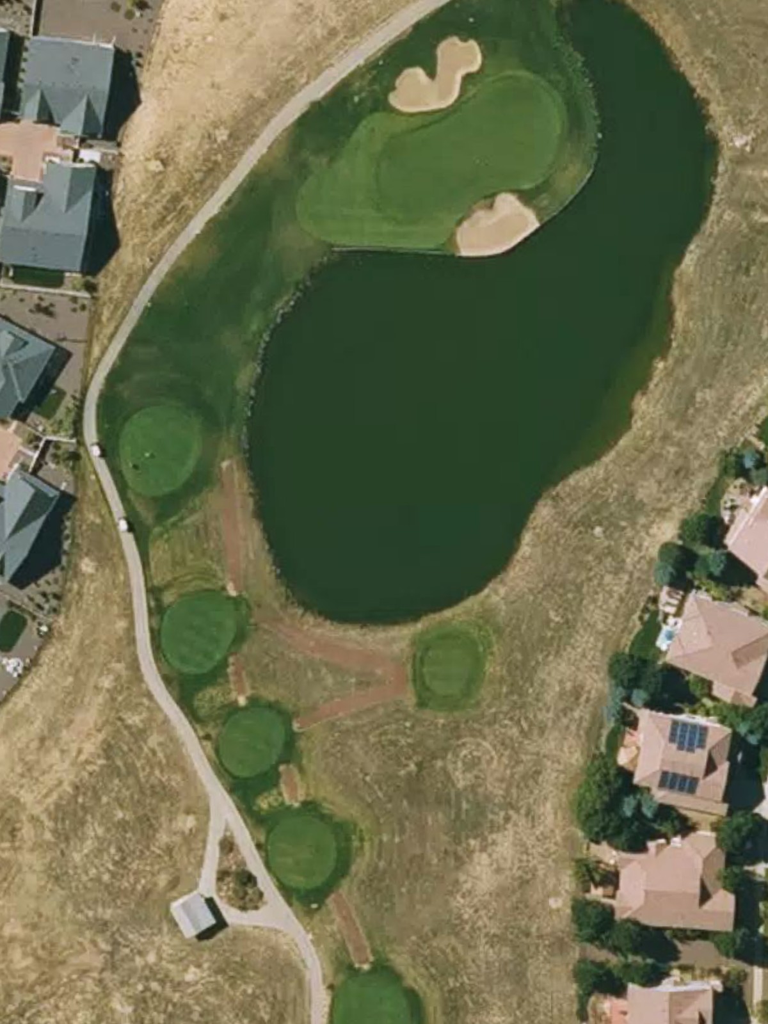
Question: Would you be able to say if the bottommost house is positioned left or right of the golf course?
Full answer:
Relative to the golf course, the bottommost house lies to the right.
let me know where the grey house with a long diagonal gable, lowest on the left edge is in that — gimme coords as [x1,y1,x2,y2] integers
[0,464,60,581]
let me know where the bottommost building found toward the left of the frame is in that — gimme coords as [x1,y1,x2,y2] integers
[170,891,215,938]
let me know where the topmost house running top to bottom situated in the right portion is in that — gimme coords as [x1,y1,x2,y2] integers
[723,476,768,584]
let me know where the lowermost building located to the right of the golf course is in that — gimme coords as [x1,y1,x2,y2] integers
[628,978,712,1024]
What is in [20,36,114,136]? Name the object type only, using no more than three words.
house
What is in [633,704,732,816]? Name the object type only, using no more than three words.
house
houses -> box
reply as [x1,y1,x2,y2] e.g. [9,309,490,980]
[723,476,768,584]
[633,704,732,816]
[628,978,712,1024]
[0,316,57,418]
[667,587,768,707]
[0,29,9,119]
[0,464,60,581]
[0,164,97,273]
[615,824,735,932]
[20,36,114,136]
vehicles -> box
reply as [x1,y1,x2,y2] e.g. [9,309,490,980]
[91,443,101,457]
[119,518,129,532]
